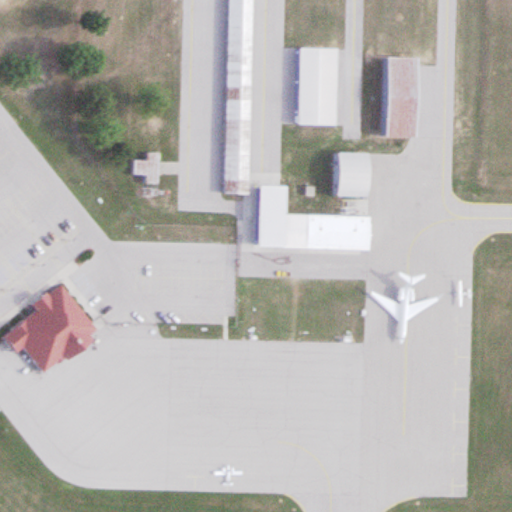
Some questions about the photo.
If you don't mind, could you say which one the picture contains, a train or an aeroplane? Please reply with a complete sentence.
The image shows an aeroplane.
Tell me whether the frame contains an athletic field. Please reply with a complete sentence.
No, the frame has no athletic field in it.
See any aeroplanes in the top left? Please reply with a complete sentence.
No, I can find no aeroplane in the top left.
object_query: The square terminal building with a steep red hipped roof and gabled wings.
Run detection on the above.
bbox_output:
[5,284,96,370]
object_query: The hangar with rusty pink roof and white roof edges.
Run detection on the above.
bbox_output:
[380,58,420,138]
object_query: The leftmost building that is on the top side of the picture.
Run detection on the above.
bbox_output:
[132,152,161,185]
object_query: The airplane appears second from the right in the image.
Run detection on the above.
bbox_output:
[370,271,440,344]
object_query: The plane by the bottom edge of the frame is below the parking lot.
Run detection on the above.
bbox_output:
[214,464,243,486]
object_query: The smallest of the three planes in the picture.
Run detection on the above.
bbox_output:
[454,280,473,307]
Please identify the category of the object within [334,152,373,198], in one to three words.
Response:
hangar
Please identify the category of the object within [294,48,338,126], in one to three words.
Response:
hangar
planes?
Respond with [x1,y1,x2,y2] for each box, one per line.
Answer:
[214,464,243,486]
[454,280,473,307]
[370,271,440,344]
